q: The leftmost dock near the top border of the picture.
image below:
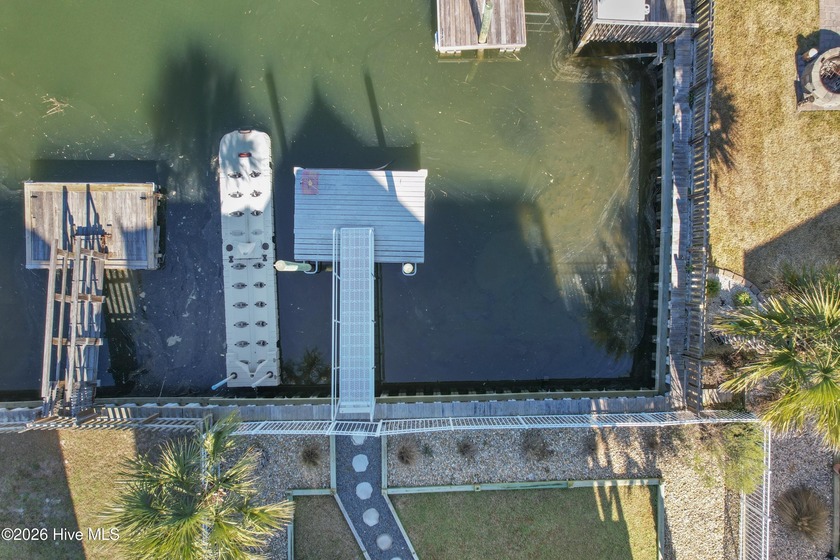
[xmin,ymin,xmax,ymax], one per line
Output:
[436,0,526,58]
